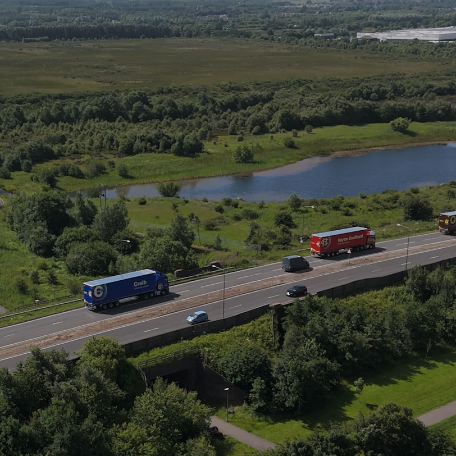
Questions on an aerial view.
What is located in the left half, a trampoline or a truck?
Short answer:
truck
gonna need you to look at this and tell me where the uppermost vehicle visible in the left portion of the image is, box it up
[82,269,168,308]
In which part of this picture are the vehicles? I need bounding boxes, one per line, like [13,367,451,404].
[282,255,311,273]
[310,227,377,257]
[286,285,309,298]
[185,310,211,324]
[82,269,168,308]
[437,212,456,234]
